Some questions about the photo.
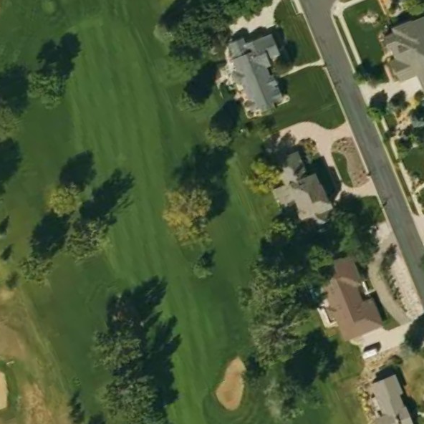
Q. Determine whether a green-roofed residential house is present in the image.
No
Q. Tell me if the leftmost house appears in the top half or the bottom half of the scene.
top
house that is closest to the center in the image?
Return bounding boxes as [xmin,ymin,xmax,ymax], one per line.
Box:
[268,150,337,223]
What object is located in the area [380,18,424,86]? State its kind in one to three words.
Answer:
house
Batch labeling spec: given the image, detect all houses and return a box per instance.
[268,150,337,223]
[380,18,424,86]
[371,377,422,424]
[322,261,386,335]
[224,30,290,114]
